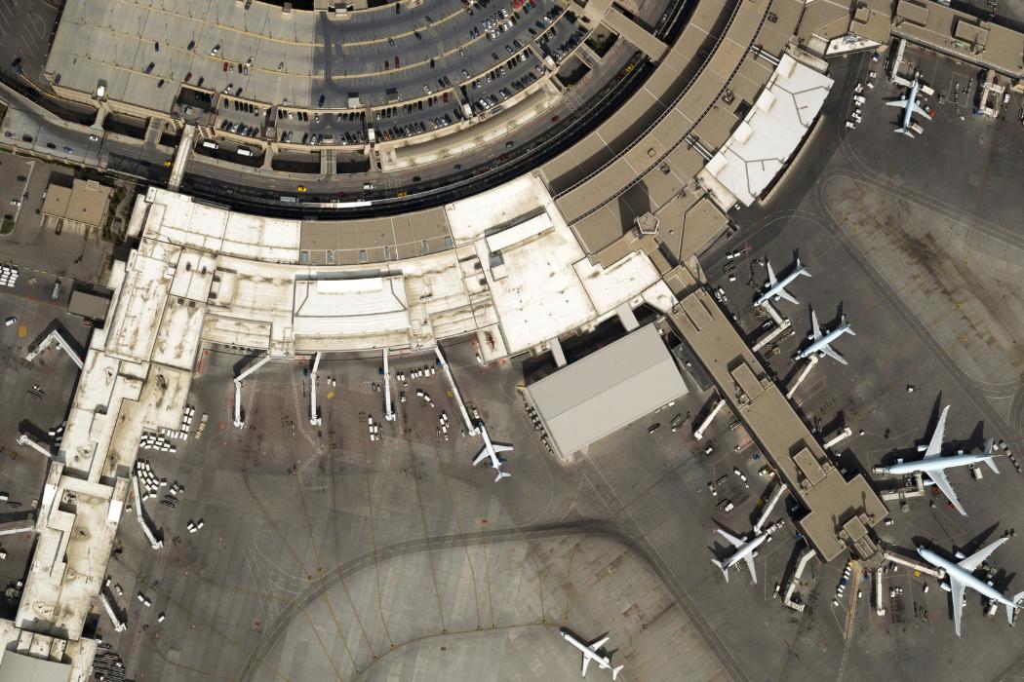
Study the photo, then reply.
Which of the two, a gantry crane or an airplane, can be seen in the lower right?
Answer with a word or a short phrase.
airplane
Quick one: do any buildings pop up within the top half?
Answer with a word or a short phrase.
Yes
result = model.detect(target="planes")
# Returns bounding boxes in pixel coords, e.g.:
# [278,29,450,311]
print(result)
[474,423,515,482]
[800,308,857,362]
[714,530,769,584]
[919,537,1024,637]
[562,633,623,679]
[884,79,935,135]
[886,404,1005,517]
[753,258,812,306]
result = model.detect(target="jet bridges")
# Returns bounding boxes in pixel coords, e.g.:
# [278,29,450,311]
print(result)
[884,554,945,578]
[0,525,37,536]
[22,330,85,368]
[890,42,915,90]
[880,470,925,500]
[383,353,396,421]
[690,400,725,441]
[786,352,816,398]
[17,436,53,459]
[131,477,165,551]
[435,346,479,435]
[100,595,126,632]
[823,426,851,449]
[232,354,270,431]
[752,296,787,352]
[749,484,787,536]
[308,352,321,428]
[783,550,816,613]
[872,569,888,615]
[989,83,1004,112]
[979,73,1001,120]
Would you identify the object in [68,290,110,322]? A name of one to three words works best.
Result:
building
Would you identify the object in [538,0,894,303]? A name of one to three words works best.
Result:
building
